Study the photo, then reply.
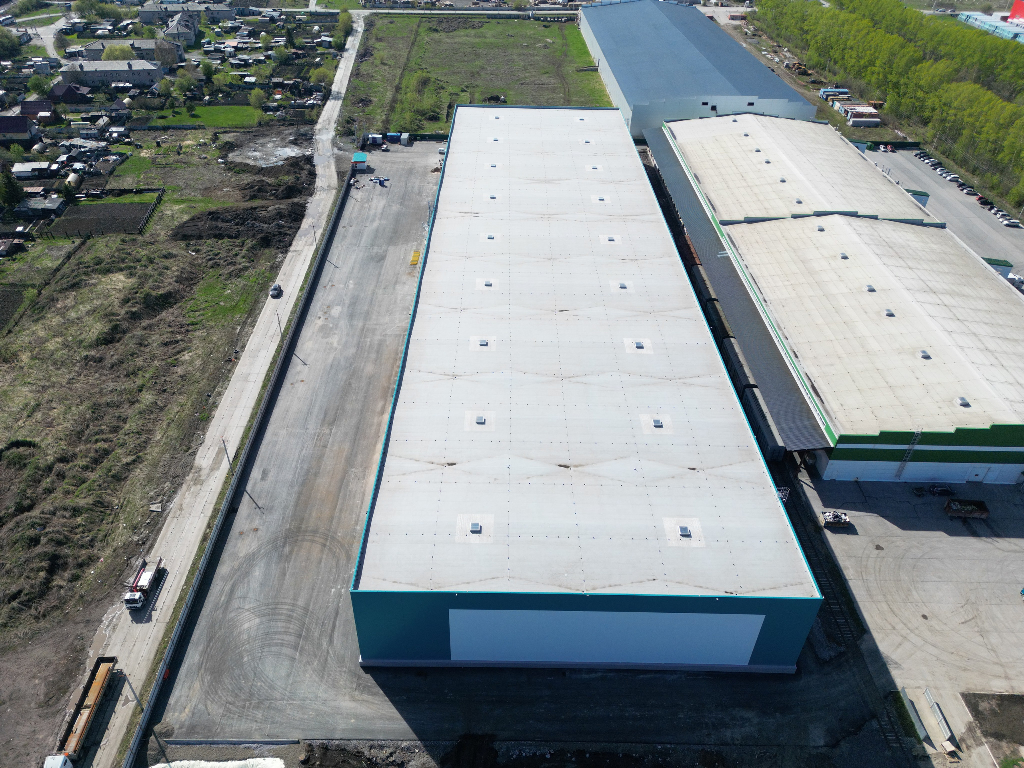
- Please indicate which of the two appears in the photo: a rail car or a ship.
rail car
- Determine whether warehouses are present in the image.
Yes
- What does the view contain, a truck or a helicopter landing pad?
truck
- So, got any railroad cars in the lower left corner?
No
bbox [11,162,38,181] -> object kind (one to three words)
shed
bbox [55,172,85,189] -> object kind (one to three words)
greenhouse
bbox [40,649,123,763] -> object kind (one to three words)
trailer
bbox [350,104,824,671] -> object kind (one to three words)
warehouse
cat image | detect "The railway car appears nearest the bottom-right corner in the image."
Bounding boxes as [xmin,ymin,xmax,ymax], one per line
[738,387,785,464]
